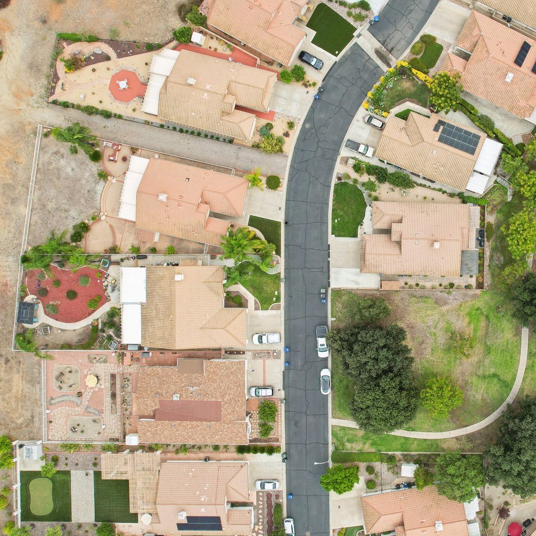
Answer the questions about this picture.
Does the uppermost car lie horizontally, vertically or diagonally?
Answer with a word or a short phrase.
diagonally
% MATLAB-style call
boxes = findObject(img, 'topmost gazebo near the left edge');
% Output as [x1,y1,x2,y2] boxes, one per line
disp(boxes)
[17,301,47,324]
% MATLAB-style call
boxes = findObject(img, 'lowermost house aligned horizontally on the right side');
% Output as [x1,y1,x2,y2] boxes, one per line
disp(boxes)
[360,484,482,536]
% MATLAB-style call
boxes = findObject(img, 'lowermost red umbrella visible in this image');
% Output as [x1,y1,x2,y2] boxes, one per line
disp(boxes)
[508,523,522,536]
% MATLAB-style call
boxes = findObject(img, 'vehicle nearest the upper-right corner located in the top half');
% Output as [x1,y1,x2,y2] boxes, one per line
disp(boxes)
[363,114,386,130]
